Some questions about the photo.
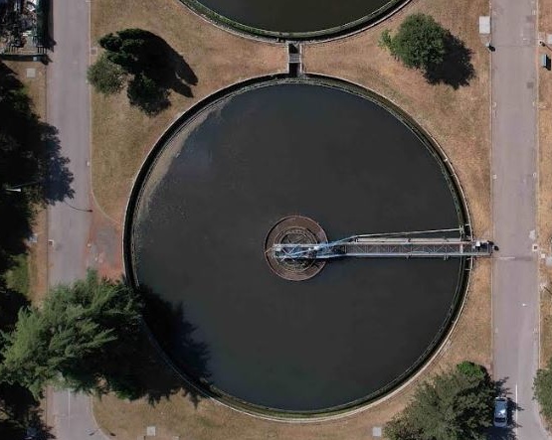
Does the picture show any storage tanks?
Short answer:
Yes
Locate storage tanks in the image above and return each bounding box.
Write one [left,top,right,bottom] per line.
[122,70,473,421]
[182,0,411,43]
